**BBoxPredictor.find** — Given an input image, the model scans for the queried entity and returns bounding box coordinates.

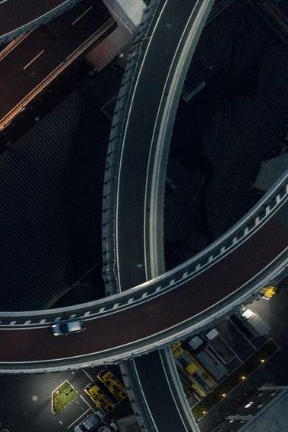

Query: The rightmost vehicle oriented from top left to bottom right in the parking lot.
[243,308,280,342]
